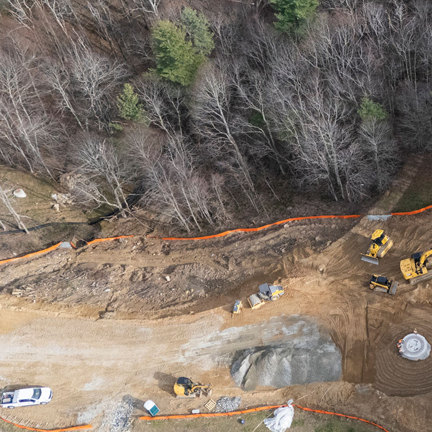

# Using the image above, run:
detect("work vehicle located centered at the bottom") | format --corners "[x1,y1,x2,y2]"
[172,378,216,401]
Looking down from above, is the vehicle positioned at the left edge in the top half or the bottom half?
bottom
